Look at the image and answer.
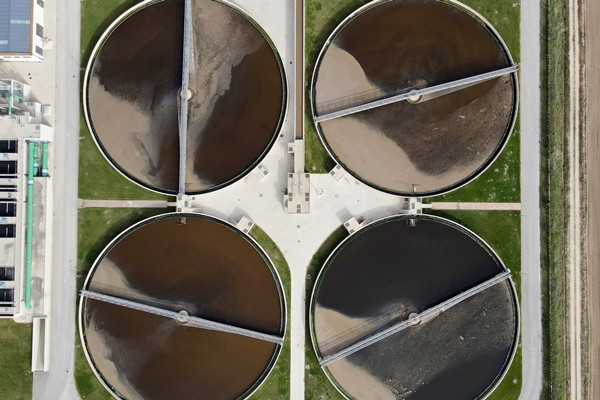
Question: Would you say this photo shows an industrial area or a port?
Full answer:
It's an industrial area.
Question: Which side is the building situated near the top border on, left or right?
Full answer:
The building situated near the top border sits on the left side.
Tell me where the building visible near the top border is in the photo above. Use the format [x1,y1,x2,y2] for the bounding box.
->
[0,0,43,61]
